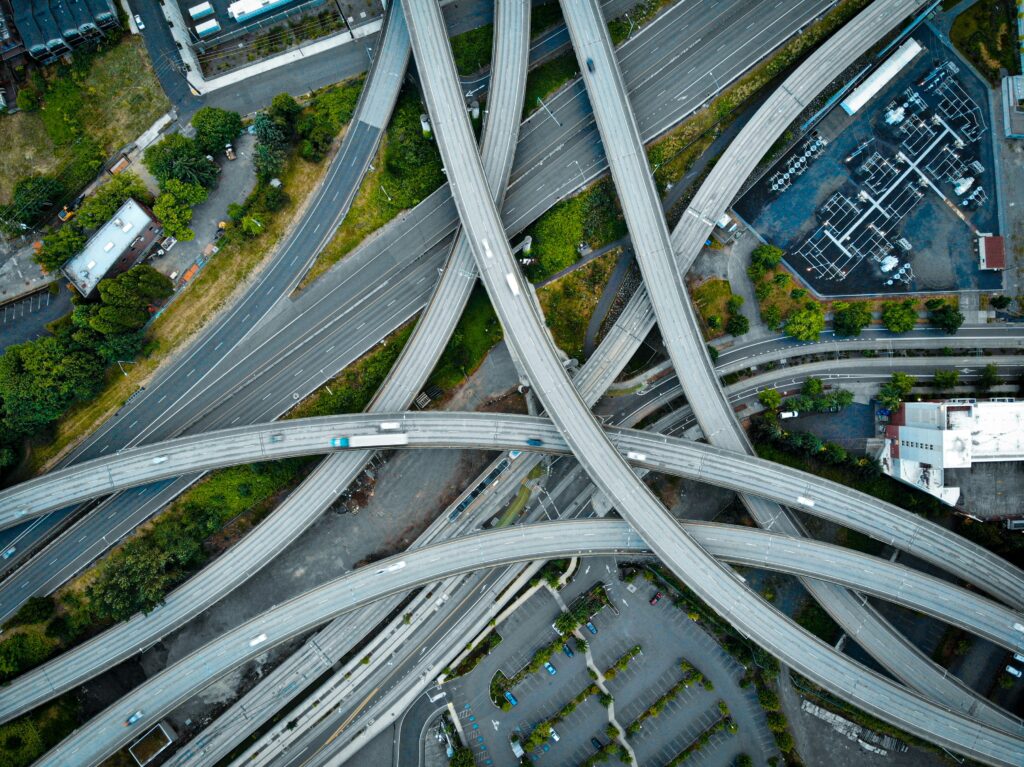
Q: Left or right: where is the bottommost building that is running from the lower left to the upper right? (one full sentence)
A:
The bottommost building that is running from the lower left to the upper right appears in the left half of the scene.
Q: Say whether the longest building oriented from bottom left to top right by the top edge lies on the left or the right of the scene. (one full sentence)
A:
The longest building oriented from bottom left to top right by the top edge is on the right side of the image.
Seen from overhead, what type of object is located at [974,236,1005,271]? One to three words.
building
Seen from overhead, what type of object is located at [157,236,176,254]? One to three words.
vehicle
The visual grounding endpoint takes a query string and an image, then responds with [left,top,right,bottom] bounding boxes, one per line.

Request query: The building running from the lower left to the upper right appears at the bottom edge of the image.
[128,715,180,767]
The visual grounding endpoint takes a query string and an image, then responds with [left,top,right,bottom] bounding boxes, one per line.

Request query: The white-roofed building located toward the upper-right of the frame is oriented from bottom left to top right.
[836,38,922,117]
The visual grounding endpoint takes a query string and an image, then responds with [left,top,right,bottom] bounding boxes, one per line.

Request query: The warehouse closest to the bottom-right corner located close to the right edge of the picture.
[875,398,1024,518]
